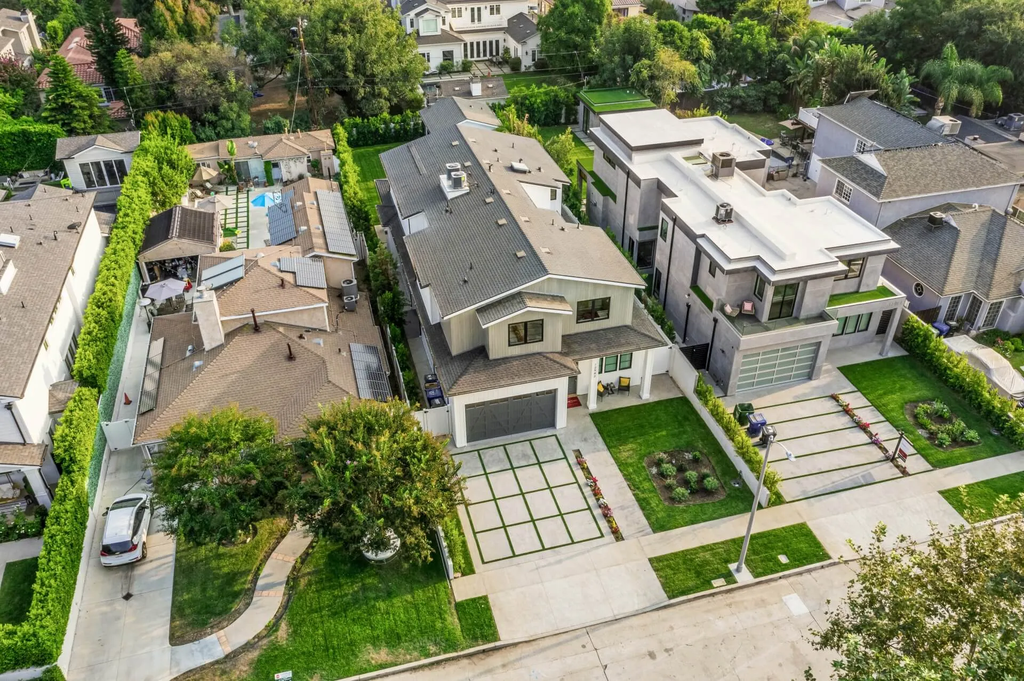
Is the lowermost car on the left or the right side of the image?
left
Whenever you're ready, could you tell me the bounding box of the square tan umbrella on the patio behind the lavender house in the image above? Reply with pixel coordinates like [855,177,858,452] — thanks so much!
[777,123,800,154]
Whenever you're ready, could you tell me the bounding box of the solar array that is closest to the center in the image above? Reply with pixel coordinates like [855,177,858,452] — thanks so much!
[339,335,384,385]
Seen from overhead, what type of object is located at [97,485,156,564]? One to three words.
car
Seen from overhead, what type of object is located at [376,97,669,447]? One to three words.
house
